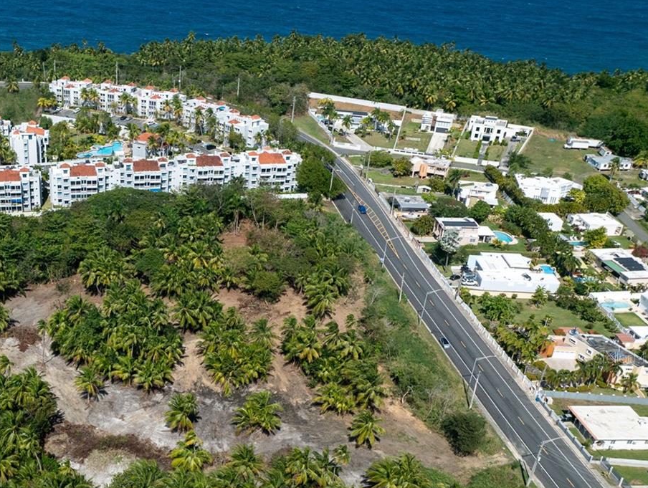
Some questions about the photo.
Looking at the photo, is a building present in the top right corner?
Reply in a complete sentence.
Yes, a building shows up in the top right corner.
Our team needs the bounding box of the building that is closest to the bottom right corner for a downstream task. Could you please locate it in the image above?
[565,404,648,453]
